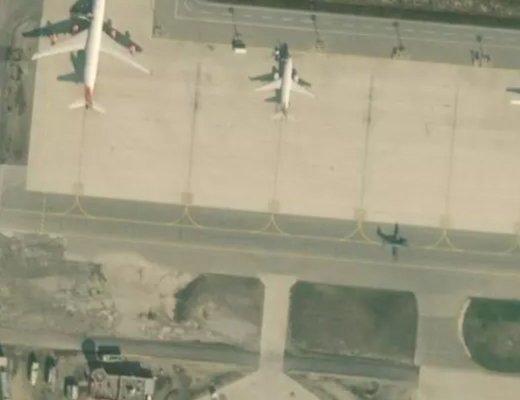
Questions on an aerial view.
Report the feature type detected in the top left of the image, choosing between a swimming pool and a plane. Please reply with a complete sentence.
Looking in the top left of the image, you will find a plane.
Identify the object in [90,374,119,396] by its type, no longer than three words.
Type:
house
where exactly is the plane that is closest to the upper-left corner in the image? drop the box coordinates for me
[31,0,152,113]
